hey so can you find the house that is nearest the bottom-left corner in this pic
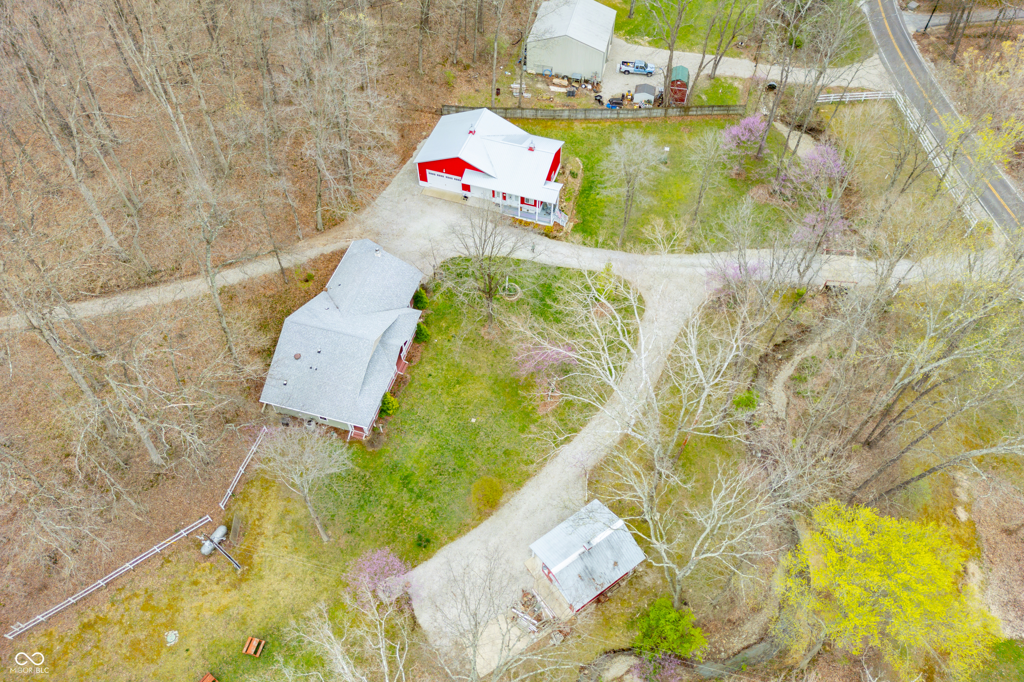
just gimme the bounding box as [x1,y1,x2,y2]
[258,240,424,449]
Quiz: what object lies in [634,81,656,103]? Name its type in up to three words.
shed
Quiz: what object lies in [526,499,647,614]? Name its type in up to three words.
shed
